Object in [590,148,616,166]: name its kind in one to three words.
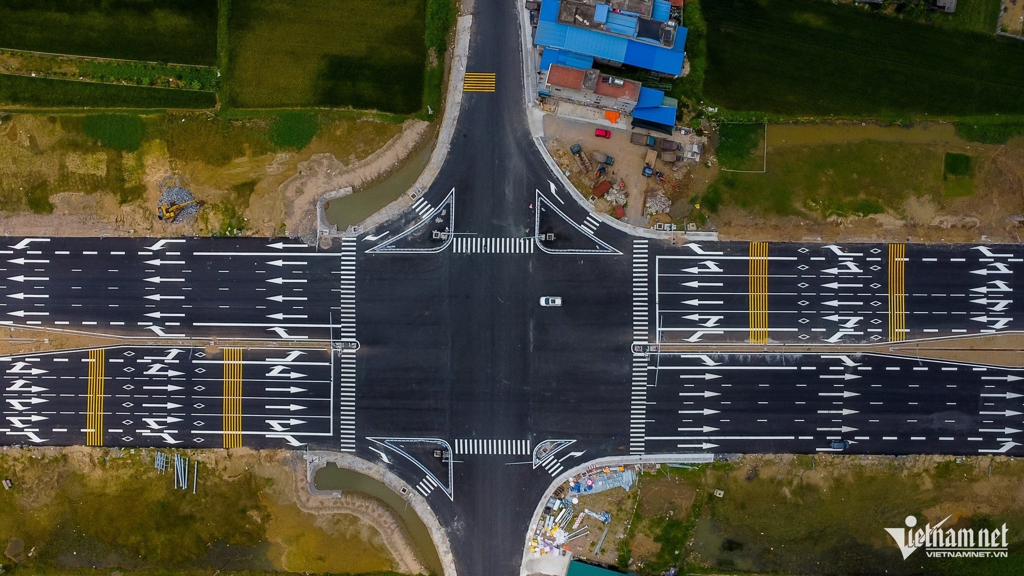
vehicle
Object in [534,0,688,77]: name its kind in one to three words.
house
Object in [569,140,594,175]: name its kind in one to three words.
truck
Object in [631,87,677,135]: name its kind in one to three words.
shed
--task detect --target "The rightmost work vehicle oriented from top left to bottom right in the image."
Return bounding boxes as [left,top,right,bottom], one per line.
[653,168,681,190]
